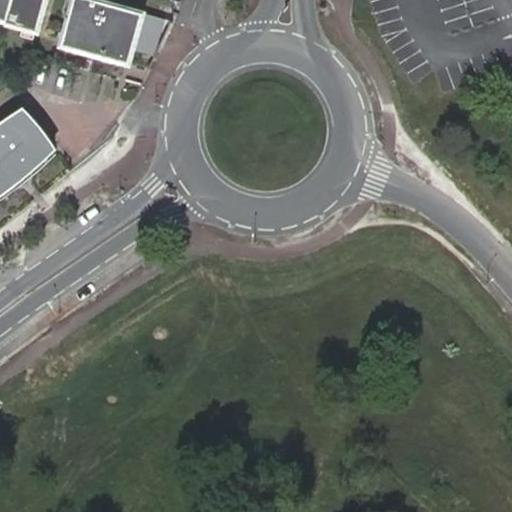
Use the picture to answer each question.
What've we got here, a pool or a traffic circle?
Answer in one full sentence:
Visible in the photo is a traffic circle.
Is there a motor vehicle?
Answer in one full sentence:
Yes, you can see a motor vehicle in this photo.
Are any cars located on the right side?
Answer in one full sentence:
No, no car can be made out on the right side.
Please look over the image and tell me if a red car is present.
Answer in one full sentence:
No, this view has no red car in it.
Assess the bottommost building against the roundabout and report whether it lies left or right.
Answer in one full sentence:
Relative to the roundabout, the bottommost building is on the left.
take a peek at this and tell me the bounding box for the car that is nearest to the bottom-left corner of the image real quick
[76,283,96,300]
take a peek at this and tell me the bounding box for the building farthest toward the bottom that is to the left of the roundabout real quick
[0,106,56,200]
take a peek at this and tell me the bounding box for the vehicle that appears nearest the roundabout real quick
[77,205,100,225]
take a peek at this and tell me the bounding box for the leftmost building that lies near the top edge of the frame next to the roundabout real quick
[58,0,146,65]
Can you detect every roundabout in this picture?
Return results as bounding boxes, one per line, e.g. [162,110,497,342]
[114,20,376,240]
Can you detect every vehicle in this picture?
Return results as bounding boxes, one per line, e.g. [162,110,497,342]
[34,66,48,86]
[77,205,100,225]
[76,283,96,300]
[56,68,66,89]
